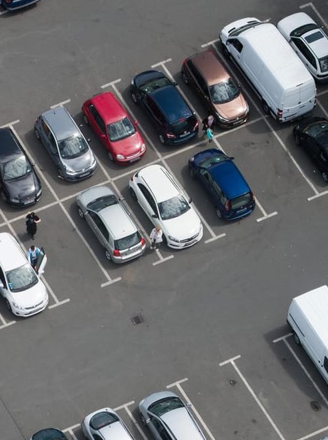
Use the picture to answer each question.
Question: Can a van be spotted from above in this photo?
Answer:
Yes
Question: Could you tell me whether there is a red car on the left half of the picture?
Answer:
Yes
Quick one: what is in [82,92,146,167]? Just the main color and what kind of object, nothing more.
red car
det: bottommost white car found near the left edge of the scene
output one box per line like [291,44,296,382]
[0,231,49,318]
